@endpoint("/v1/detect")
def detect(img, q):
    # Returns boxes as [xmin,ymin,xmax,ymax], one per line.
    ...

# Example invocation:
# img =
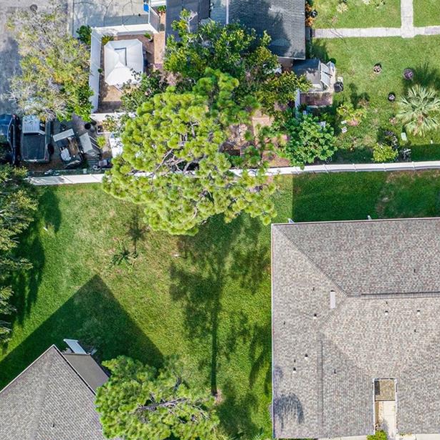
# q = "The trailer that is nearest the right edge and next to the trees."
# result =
[47,121,79,168]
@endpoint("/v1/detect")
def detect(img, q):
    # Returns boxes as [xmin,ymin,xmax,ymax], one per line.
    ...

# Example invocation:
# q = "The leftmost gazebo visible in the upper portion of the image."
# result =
[96,38,148,90]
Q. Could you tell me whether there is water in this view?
No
